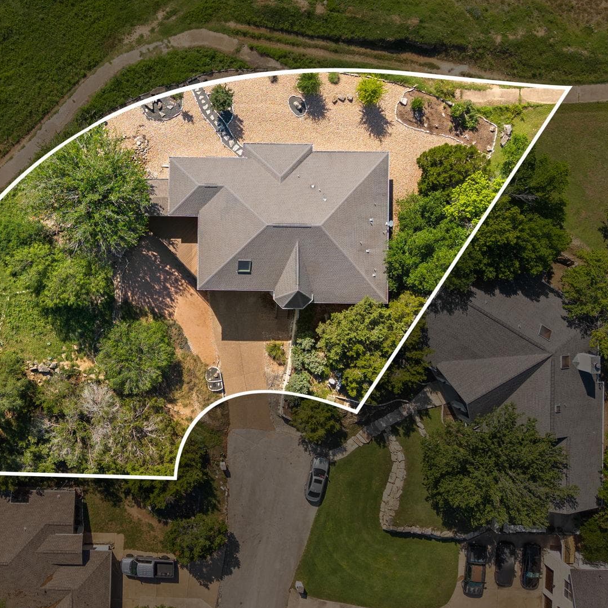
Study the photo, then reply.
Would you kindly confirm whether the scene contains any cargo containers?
No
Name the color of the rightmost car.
black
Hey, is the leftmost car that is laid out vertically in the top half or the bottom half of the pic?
bottom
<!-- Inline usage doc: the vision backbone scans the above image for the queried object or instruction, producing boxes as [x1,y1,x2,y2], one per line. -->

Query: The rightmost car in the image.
[522,544,545,590]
